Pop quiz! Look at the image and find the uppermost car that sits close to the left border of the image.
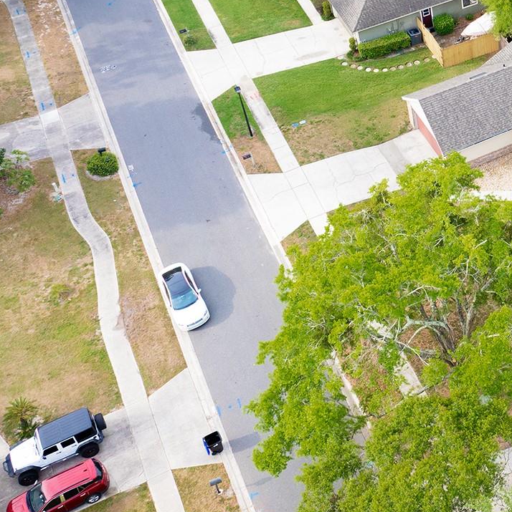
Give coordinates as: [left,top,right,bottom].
[9,413,100,482]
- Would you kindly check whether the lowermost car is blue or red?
red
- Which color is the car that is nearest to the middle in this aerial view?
white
